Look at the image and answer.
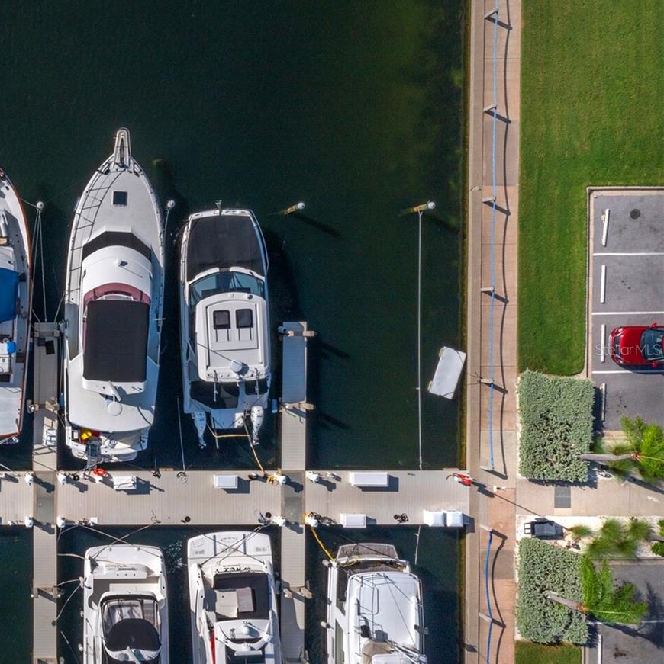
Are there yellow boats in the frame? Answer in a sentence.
No, no yellow boat is visible in the view.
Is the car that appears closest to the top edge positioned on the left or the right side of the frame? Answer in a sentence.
The car that appears closest to the top edge is on the right side of the image.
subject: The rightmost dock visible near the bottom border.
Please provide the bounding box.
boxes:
[279,526,305,659]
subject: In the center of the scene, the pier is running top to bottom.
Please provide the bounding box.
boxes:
[279,322,305,471]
